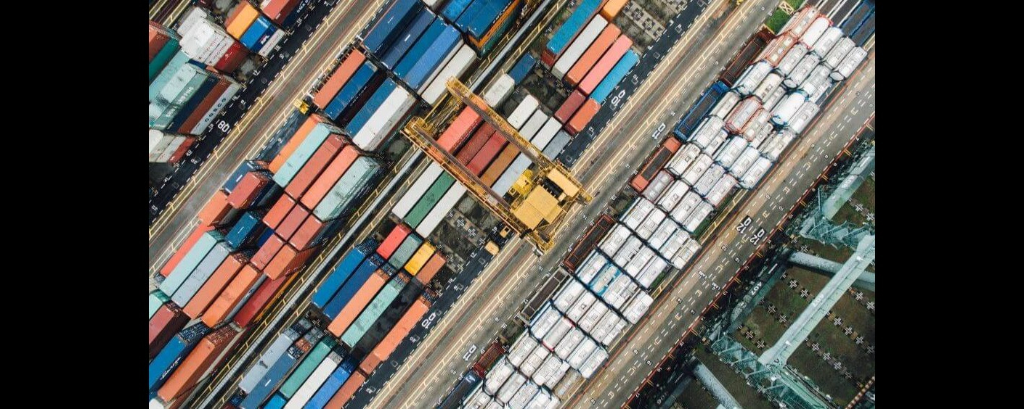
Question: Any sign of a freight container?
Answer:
Yes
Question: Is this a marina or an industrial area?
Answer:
industrial area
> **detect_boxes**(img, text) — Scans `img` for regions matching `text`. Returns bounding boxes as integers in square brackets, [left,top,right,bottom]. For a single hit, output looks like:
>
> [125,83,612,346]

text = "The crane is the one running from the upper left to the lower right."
[407,71,597,248]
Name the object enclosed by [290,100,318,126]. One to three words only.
truck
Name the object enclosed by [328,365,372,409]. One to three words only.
shipping container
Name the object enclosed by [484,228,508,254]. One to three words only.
truck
